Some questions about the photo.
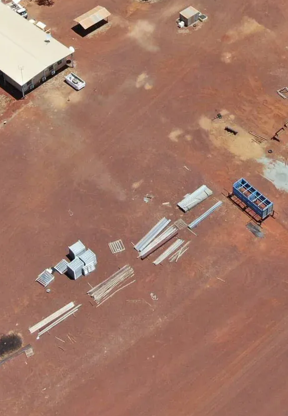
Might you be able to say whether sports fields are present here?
No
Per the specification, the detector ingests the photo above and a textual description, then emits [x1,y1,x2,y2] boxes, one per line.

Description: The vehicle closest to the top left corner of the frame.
[7,2,34,22]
